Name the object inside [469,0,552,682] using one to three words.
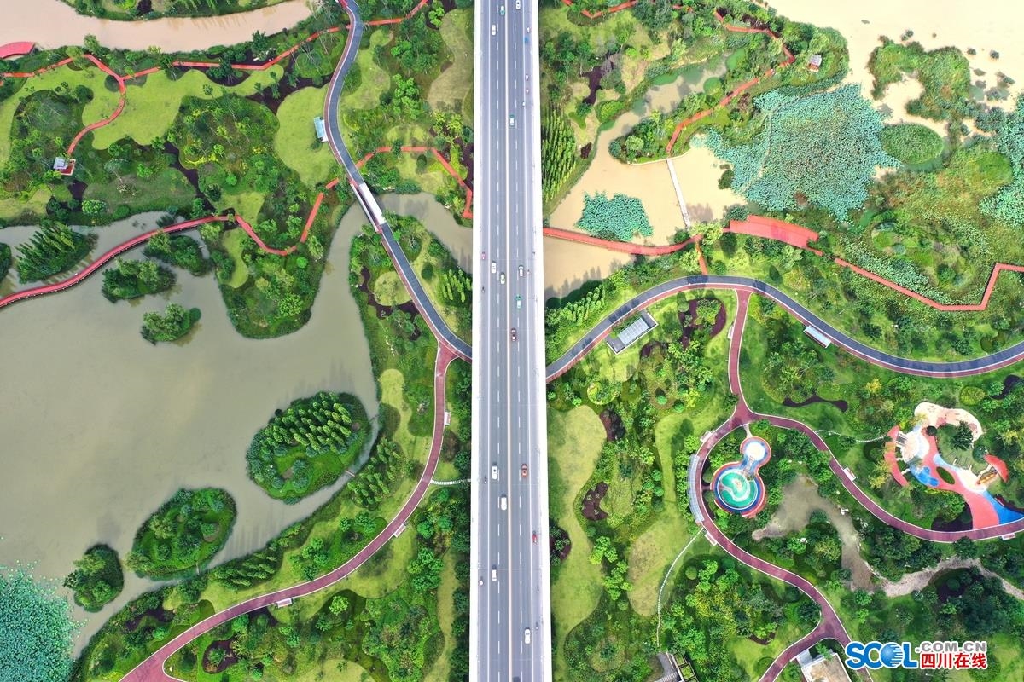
bridge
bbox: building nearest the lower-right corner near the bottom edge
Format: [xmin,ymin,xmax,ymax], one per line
[795,649,853,682]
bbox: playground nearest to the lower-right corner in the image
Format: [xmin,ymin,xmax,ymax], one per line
[902,402,1024,532]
